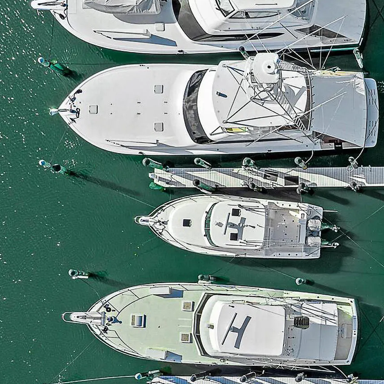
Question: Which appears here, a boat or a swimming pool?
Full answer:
Looking from above, you can make out a boat.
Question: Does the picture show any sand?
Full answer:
No, there is no sand in the image.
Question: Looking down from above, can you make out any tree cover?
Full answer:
No, tree cover can't be seen anywhere here.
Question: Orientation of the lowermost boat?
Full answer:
I'd say the lowermost boat is aligned from left to right in the picture.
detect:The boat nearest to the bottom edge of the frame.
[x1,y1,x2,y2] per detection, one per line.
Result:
[62,281,358,372]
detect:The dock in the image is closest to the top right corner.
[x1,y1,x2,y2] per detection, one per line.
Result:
[151,166,384,190]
